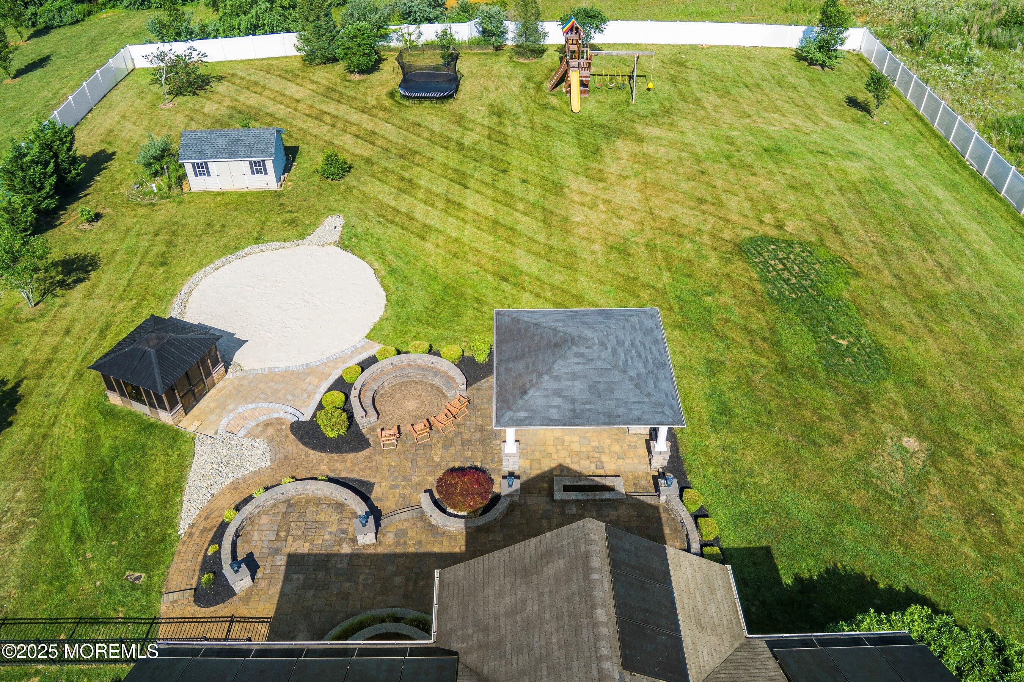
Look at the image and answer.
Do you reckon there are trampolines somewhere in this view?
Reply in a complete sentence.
Yes, there's a trampoline here.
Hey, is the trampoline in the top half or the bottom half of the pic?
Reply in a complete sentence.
The top half of the photo is where the trampoline is.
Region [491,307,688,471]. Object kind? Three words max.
building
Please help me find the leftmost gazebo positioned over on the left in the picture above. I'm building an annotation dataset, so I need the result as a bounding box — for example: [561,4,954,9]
[83,312,227,428]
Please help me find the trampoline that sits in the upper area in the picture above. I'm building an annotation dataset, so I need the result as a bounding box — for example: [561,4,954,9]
[394,47,461,107]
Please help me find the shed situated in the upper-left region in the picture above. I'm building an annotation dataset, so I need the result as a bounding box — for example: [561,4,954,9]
[176,125,287,191]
